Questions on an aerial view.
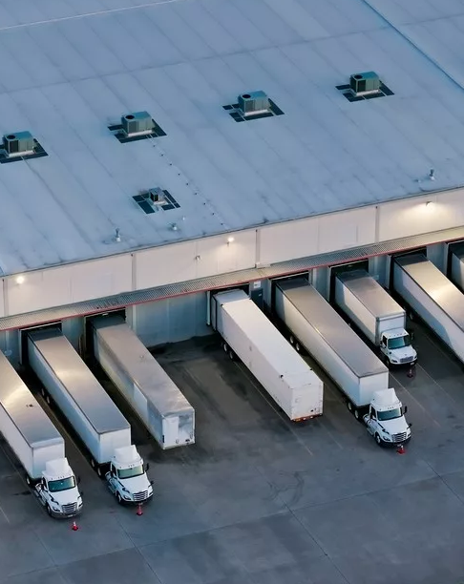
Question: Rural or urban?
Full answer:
The area is urban.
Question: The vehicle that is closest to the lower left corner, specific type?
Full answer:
Specifically, the vehicle that is closest to the lower left corner is a truck.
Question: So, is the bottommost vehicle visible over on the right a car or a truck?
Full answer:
It turns out the bottommost vehicle visible over on the right is a truck.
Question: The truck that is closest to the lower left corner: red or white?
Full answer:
The truck that is closest to the lower left corner is white.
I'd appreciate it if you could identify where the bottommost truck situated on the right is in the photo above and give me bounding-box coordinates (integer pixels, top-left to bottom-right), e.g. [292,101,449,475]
[341,388,410,449]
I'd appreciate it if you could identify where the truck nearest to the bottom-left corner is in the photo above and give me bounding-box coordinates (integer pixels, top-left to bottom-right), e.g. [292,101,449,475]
[26,456,84,519]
